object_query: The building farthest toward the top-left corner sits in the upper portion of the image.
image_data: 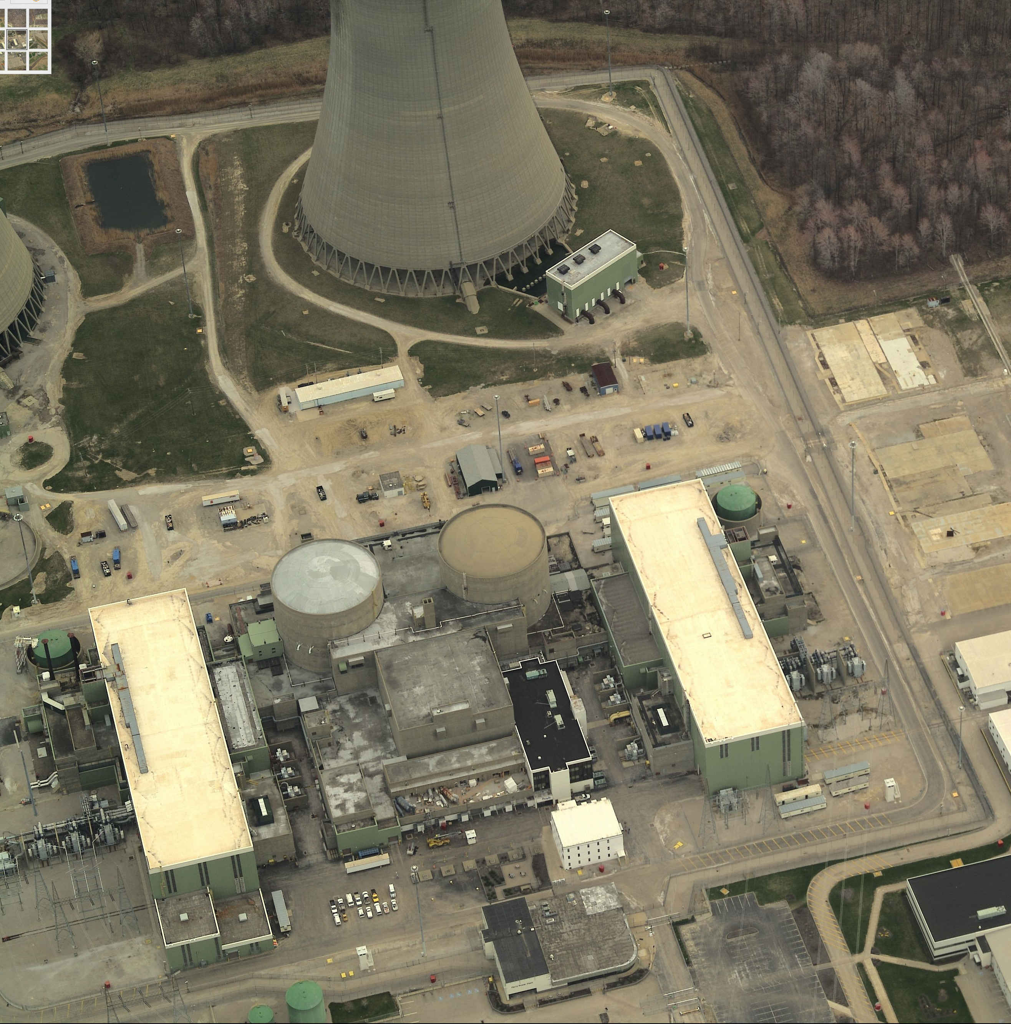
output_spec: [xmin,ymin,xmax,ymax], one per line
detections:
[34,264,62,288]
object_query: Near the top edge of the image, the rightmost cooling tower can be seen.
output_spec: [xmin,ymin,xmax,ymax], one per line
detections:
[293,0,578,297]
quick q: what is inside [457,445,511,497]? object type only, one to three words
barn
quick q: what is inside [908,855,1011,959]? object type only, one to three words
building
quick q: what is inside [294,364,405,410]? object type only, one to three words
shed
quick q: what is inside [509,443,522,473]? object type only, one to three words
vehicle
